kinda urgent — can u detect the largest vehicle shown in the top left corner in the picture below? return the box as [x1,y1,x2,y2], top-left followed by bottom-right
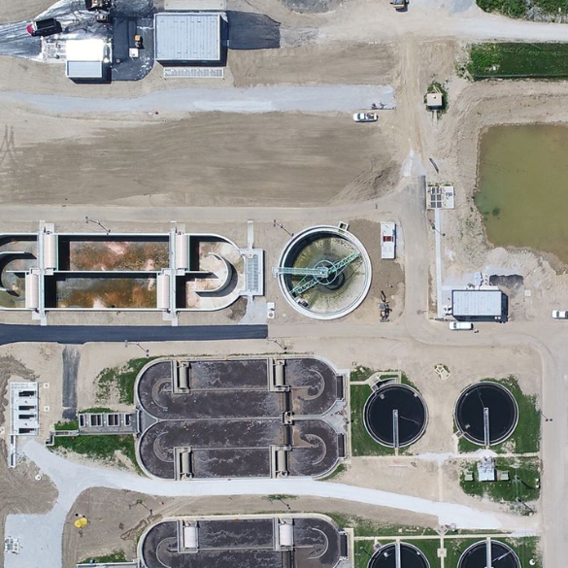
[27,16,61,34]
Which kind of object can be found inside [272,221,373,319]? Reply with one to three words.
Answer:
storage tank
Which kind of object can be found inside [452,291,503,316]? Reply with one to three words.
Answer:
building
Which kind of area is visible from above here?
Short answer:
industrial area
